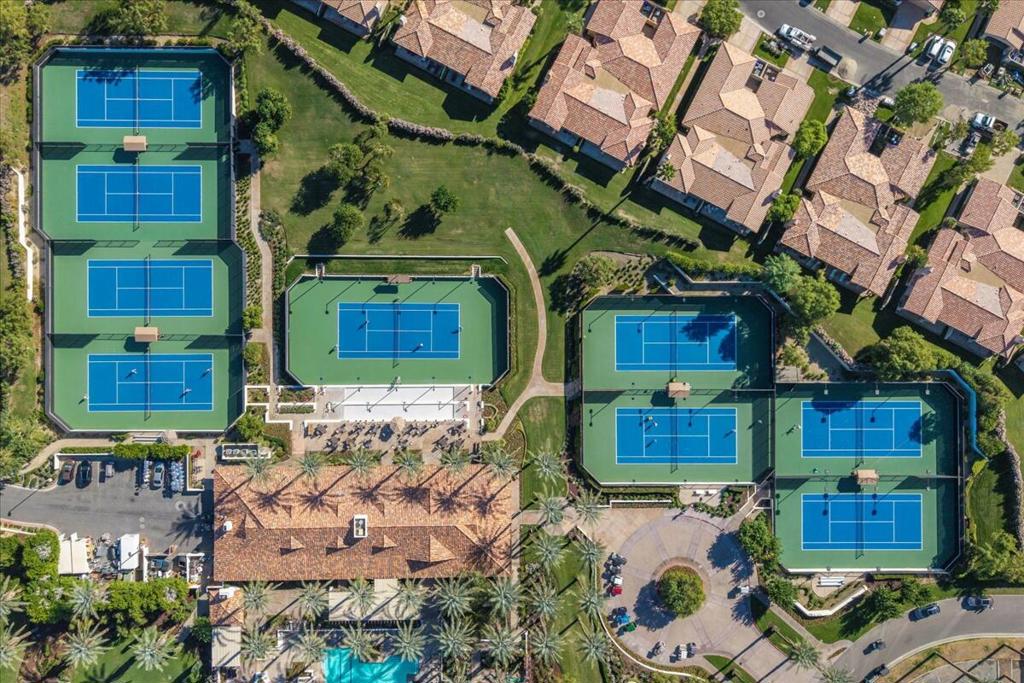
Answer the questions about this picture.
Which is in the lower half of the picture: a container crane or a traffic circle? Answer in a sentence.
What appears in the lower half of the picture is a traffic circle.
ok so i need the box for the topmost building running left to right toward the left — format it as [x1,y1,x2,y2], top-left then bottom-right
[288,0,395,47]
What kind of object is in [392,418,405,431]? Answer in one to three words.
umbrella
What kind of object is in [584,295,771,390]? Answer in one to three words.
tennis court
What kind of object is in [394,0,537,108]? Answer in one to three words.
house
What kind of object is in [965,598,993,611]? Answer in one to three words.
vehicle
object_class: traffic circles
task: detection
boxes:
[609,515,755,661]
